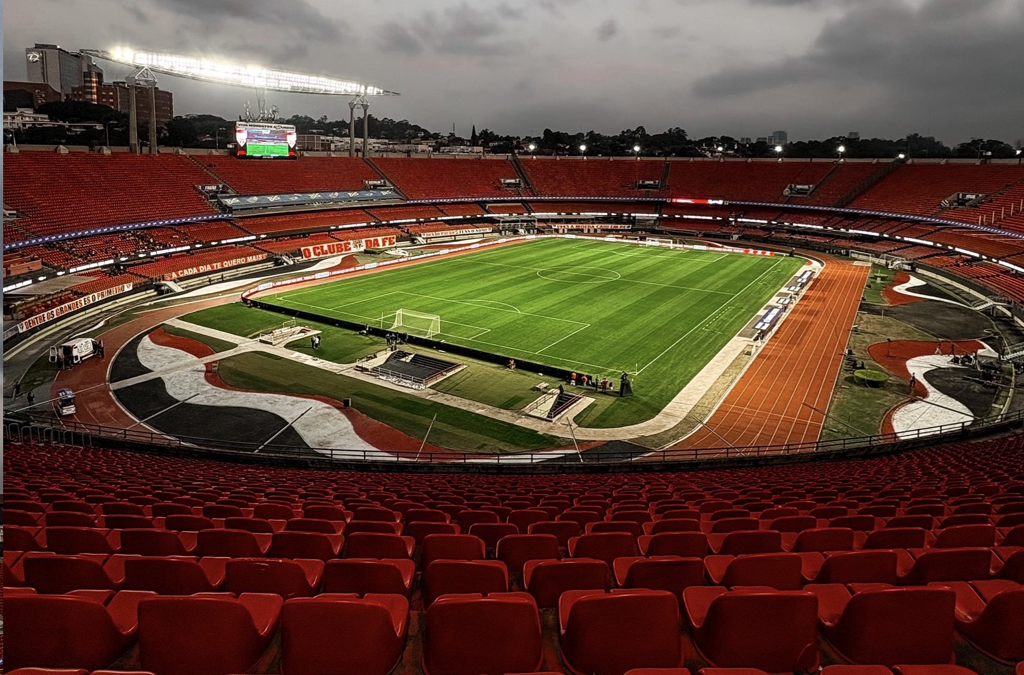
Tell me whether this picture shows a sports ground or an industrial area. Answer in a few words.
sports ground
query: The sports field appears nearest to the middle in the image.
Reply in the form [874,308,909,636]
[227,237,803,408]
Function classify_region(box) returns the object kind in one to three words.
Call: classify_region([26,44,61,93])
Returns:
building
